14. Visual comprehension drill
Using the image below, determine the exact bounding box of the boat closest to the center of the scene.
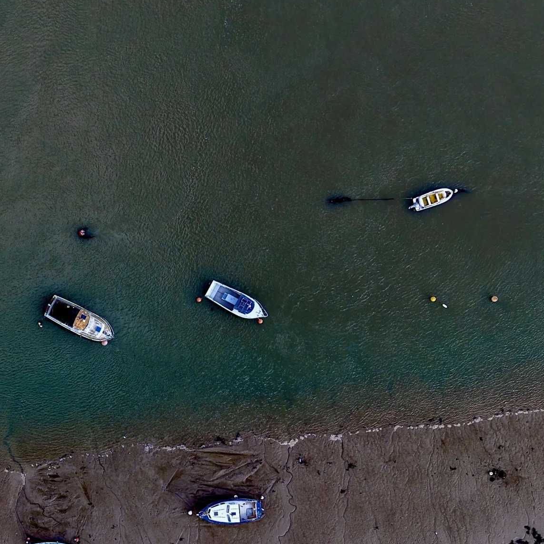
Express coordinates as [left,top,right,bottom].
[205,281,268,318]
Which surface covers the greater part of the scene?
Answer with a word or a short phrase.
water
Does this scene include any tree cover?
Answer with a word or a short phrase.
No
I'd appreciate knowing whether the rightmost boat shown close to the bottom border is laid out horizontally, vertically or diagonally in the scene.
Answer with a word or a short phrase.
horizontally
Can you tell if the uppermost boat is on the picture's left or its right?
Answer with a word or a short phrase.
right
